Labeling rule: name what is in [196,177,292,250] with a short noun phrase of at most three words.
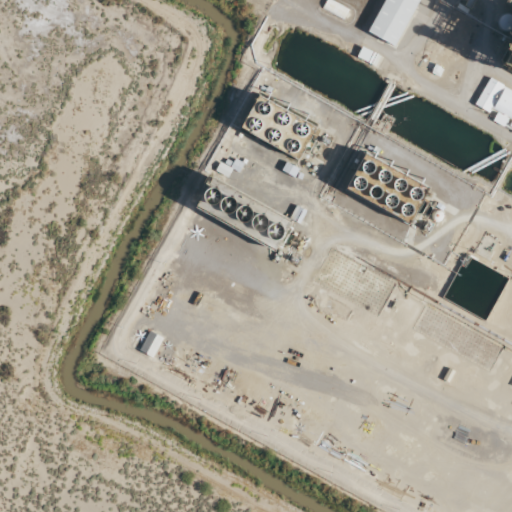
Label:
cooling tower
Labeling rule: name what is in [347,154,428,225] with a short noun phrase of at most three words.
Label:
cooling tower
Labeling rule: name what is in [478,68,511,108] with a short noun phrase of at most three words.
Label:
building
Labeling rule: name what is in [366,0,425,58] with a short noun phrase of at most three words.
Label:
building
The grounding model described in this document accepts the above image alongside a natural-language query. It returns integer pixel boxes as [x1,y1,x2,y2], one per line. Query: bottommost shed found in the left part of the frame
[139,330,164,358]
